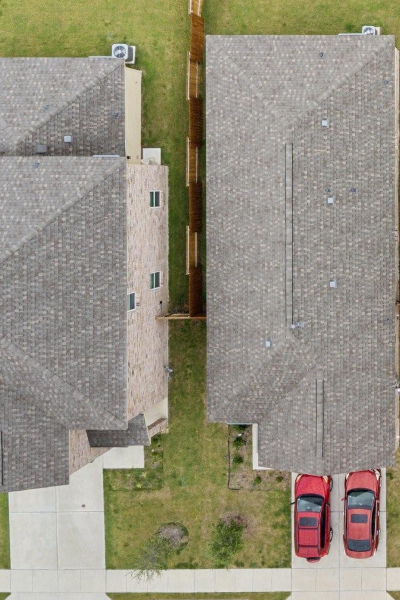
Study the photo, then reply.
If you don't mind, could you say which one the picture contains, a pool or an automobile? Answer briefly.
automobile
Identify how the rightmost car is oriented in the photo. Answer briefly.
from top to bottom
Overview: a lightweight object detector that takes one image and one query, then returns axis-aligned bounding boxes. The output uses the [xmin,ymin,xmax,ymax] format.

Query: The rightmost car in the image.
[341,470,383,558]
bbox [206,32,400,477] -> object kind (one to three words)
house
